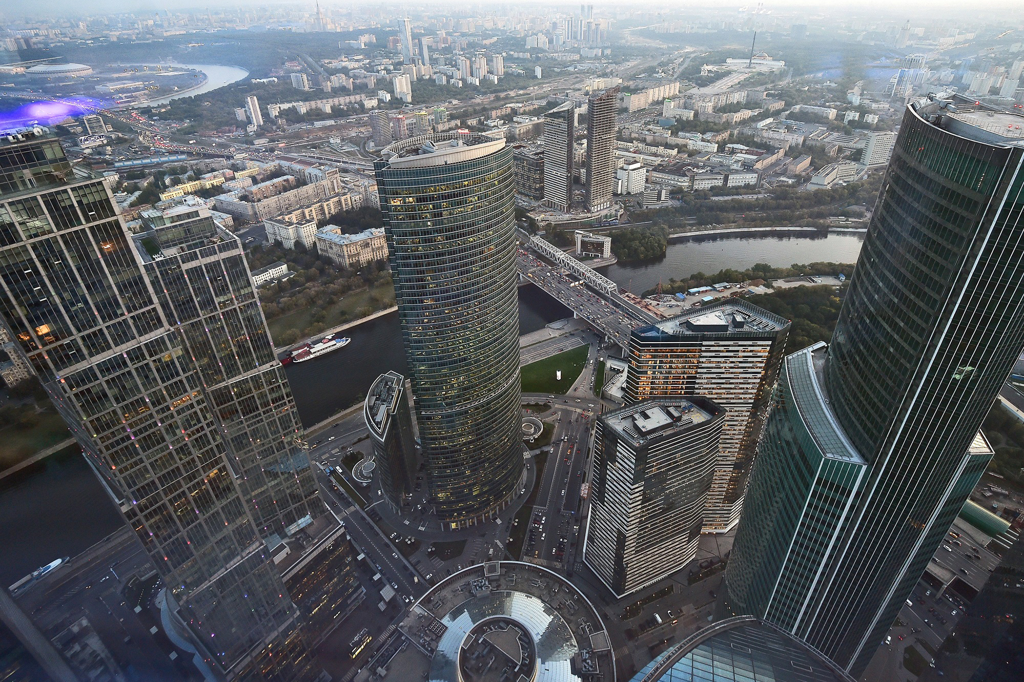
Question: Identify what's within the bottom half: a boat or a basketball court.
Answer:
boat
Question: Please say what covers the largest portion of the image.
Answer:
buildings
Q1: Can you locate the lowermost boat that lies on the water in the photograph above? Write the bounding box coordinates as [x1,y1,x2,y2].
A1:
[33,555,70,580]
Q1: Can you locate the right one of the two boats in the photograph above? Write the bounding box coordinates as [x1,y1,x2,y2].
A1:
[292,336,351,363]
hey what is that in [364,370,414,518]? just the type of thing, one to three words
building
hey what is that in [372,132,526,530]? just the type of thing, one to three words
building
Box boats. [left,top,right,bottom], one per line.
[33,555,70,580]
[292,336,351,363]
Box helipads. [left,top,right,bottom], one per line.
[942,106,1024,146]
